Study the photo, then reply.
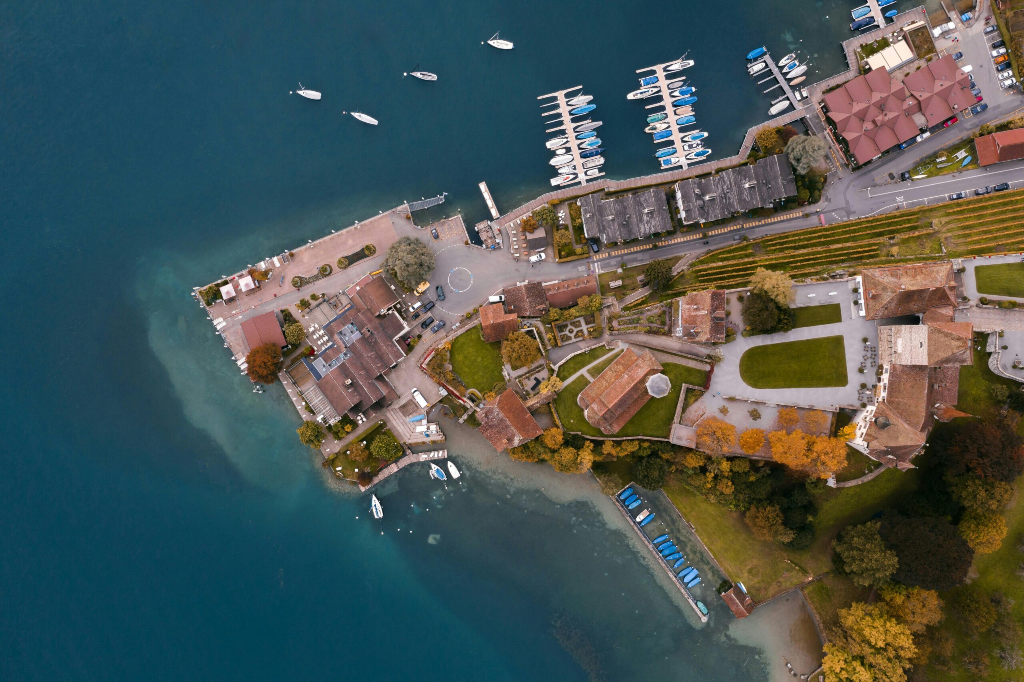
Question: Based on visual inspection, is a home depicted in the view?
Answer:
Yes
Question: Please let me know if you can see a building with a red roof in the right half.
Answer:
Yes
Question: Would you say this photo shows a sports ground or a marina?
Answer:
marina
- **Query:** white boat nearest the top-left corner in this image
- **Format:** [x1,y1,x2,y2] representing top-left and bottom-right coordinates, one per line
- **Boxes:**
[297,84,322,99]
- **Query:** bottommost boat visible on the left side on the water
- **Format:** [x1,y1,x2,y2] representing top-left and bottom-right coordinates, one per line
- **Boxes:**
[368,494,382,519]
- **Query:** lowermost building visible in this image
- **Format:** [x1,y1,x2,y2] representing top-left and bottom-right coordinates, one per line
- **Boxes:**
[719,582,755,620]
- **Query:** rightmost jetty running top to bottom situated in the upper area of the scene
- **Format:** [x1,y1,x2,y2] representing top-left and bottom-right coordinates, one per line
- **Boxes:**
[635,58,707,170]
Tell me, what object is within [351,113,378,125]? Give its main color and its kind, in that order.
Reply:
white boat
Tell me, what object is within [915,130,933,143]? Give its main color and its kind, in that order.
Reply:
white vehicle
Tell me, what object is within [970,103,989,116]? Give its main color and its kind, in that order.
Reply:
blue vehicle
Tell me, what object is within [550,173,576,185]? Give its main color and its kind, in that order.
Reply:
white boat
